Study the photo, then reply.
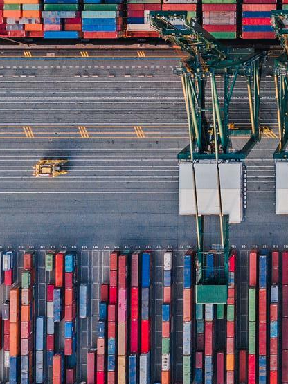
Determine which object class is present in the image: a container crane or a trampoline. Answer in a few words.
container crane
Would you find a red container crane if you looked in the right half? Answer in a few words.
No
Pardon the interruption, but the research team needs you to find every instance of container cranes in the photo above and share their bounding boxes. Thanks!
[265,10,288,212]
[149,10,275,306]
